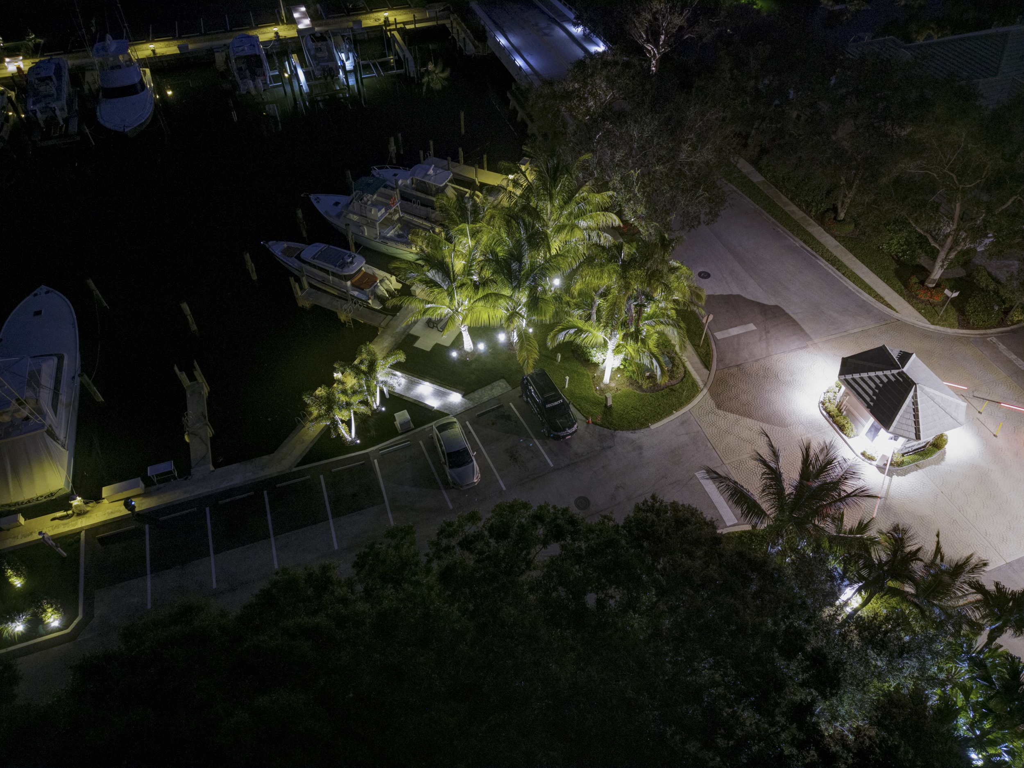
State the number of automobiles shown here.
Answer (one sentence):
The number of automobiles here is 2.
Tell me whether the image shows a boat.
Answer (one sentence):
Yes, the image includes a boat.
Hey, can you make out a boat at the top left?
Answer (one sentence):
Yes, a boat is visible at the top left.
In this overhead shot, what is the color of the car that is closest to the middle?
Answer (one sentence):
In this view, the car that is closest to the middle is black.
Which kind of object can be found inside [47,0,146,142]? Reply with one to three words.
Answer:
boat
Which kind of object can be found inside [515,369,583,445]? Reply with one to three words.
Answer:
car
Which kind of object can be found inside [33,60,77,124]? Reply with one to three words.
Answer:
boat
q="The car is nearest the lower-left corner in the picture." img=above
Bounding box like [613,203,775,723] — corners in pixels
[424,417,487,498]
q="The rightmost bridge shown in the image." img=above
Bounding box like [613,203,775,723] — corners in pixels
[468,0,641,101]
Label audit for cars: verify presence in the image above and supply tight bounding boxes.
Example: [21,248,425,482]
[515,369,583,445]
[424,417,487,498]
